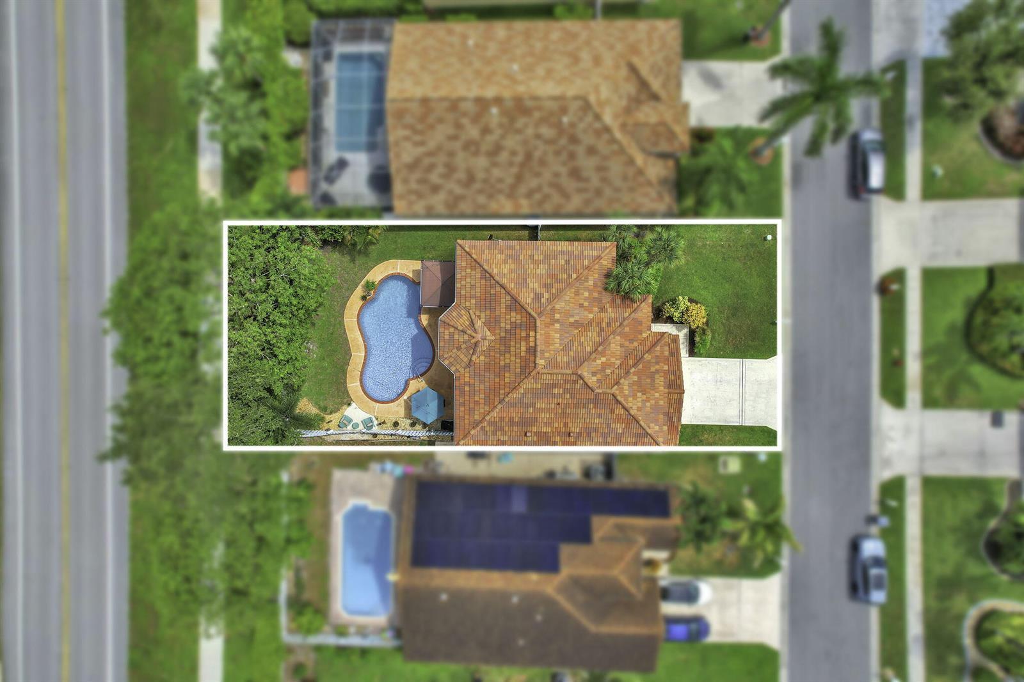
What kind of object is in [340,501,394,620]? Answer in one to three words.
swimming pool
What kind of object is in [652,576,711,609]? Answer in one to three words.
car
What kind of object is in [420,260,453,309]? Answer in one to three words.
gazebo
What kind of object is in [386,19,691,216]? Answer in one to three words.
house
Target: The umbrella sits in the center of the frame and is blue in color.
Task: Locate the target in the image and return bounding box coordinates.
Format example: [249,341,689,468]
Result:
[411,386,445,425]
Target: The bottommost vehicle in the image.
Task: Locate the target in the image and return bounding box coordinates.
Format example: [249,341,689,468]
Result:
[657,609,710,641]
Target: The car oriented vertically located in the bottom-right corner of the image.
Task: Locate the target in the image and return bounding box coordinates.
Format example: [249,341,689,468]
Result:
[850,532,884,601]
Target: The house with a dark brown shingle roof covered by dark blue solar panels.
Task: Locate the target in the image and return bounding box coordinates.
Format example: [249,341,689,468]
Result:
[395,480,682,671]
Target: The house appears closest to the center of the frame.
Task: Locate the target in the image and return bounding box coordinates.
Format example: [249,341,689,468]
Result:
[436,238,686,452]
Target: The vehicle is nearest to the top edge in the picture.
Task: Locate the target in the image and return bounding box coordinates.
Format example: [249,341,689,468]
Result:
[850,130,885,198]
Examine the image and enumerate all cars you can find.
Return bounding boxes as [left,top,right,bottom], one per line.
[657,609,710,641]
[652,576,711,609]
[850,130,885,198]
[850,532,884,601]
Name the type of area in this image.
residential area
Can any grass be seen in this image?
Yes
